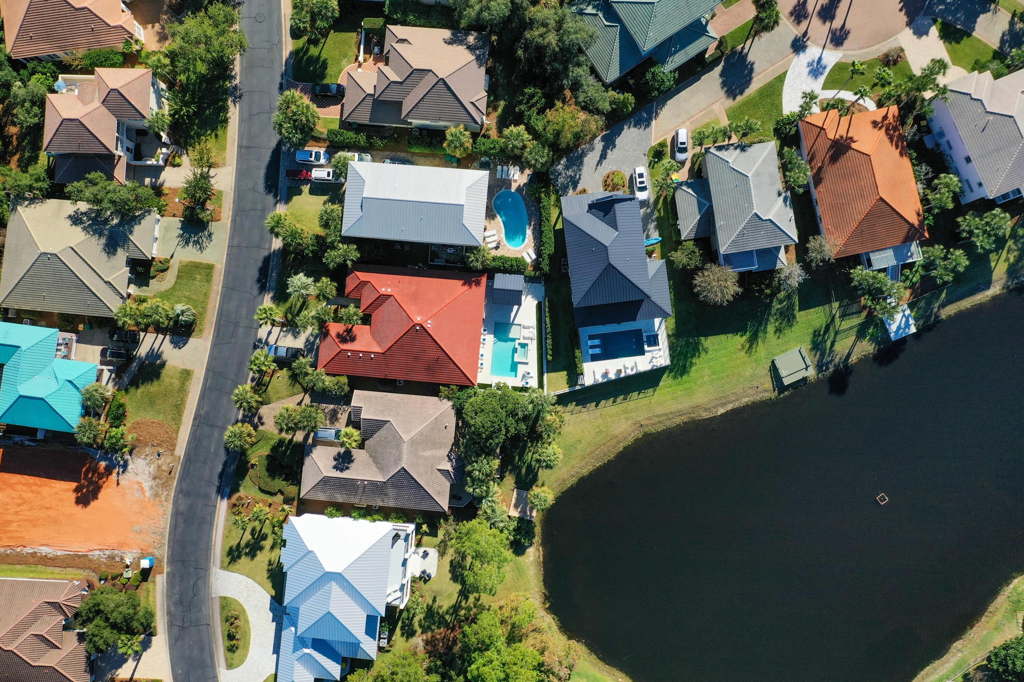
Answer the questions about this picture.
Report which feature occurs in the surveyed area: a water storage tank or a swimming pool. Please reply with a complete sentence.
I can see a swimming pool in this picture.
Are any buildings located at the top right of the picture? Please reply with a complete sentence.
Yes, there is a building at the top right of the picture.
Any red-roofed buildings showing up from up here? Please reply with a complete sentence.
Yes, there is a red-roofed building in the image.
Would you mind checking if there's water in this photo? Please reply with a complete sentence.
Yes, some water is visible.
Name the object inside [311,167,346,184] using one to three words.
car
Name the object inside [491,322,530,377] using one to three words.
swimming pool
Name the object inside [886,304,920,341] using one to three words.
pier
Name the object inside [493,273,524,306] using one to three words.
building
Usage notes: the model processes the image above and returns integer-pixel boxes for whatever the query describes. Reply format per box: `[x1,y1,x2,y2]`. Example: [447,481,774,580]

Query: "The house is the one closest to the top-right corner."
[915,67,1024,203]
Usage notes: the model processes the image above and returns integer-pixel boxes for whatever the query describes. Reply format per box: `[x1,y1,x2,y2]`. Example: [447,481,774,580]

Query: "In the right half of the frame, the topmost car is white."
[673,128,689,163]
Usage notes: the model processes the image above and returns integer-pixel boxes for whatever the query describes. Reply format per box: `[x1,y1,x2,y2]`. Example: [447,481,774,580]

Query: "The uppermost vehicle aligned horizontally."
[311,81,346,98]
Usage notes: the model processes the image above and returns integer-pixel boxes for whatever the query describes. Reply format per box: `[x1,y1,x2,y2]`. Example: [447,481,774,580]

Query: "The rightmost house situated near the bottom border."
[277,509,417,682]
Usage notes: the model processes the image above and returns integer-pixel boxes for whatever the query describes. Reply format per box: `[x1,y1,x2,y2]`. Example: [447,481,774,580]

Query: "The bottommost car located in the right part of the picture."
[632,166,650,203]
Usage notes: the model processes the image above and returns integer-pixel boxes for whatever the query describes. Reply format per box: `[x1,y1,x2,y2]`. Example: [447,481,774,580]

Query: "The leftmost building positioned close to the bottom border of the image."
[0,578,92,682]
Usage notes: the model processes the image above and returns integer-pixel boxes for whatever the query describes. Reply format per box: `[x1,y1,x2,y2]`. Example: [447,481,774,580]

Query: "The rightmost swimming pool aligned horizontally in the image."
[588,329,662,362]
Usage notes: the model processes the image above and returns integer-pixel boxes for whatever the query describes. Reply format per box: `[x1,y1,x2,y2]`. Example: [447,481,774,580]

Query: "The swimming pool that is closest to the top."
[491,188,531,250]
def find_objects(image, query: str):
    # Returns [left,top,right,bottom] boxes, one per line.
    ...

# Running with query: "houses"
[300,390,474,512]
[789,104,929,283]
[0,196,162,317]
[1,0,148,67]
[915,67,1024,203]
[42,67,169,185]
[674,140,798,272]
[0,321,124,441]
[317,263,487,386]
[277,509,417,682]
[0,578,92,682]
[342,24,491,132]
[567,0,721,85]
[560,192,672,387]
[341,160,489,248]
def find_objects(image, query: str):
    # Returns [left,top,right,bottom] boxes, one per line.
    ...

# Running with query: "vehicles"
[337,149,375,162]
[381,157,413,165]
[313,427,344,443]
[283,166,312,182]
[632,166,650,203]
[311,167,346,184]
[269,343,307,359]
[109,327,144,343]
[295,149,331,166]
[311,81,346,98]
[673,128,689,163]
